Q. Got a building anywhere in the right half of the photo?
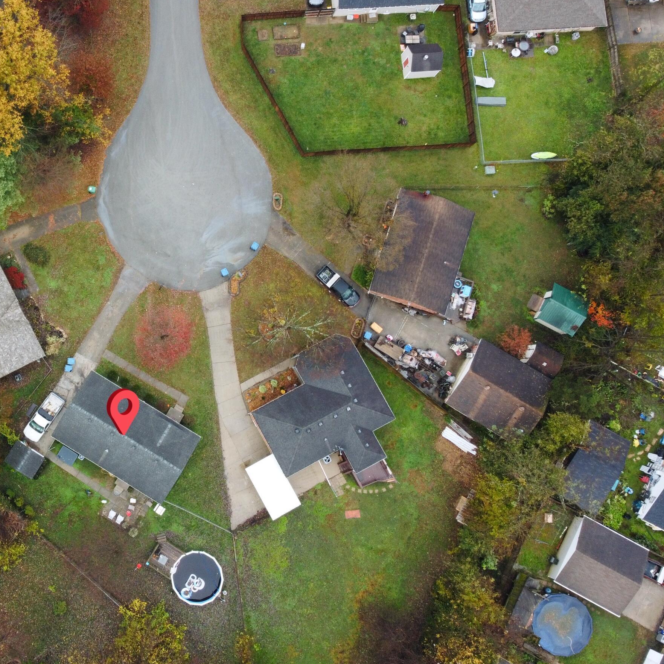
Yes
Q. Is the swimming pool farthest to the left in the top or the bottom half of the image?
bottom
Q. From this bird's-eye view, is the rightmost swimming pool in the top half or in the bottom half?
bottom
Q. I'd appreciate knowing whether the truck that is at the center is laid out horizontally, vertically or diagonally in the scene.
diagonally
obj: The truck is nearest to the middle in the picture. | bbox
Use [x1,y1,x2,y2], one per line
[311,260,362,312]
